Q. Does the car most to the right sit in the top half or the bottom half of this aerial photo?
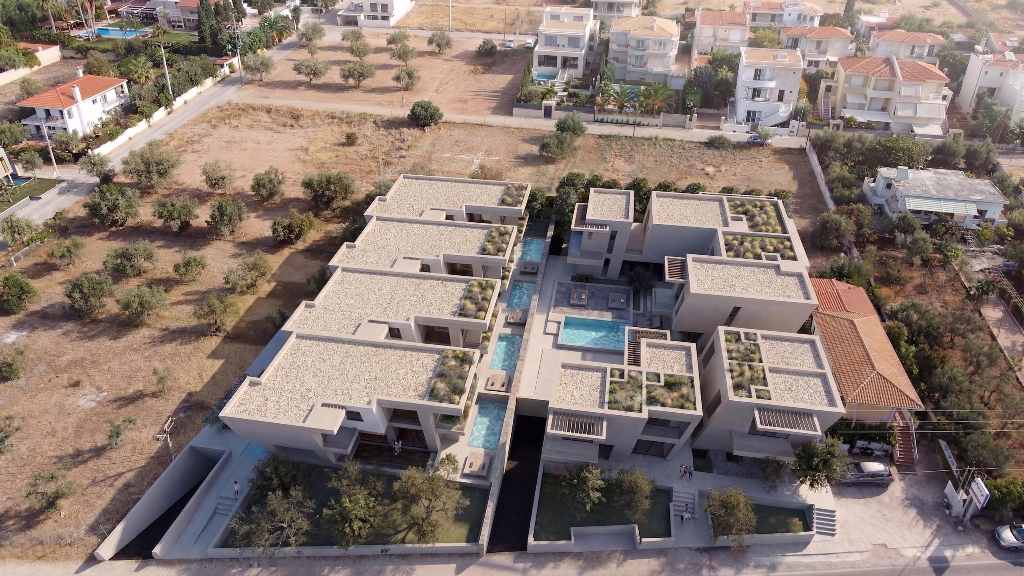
bottom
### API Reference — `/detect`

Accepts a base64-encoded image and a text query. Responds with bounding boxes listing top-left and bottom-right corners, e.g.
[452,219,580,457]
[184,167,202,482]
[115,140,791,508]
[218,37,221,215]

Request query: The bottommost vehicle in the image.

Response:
[999,522,1024,552]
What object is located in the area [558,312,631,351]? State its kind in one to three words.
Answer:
swimming pool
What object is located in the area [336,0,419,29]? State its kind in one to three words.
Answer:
house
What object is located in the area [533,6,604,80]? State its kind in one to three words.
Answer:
house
